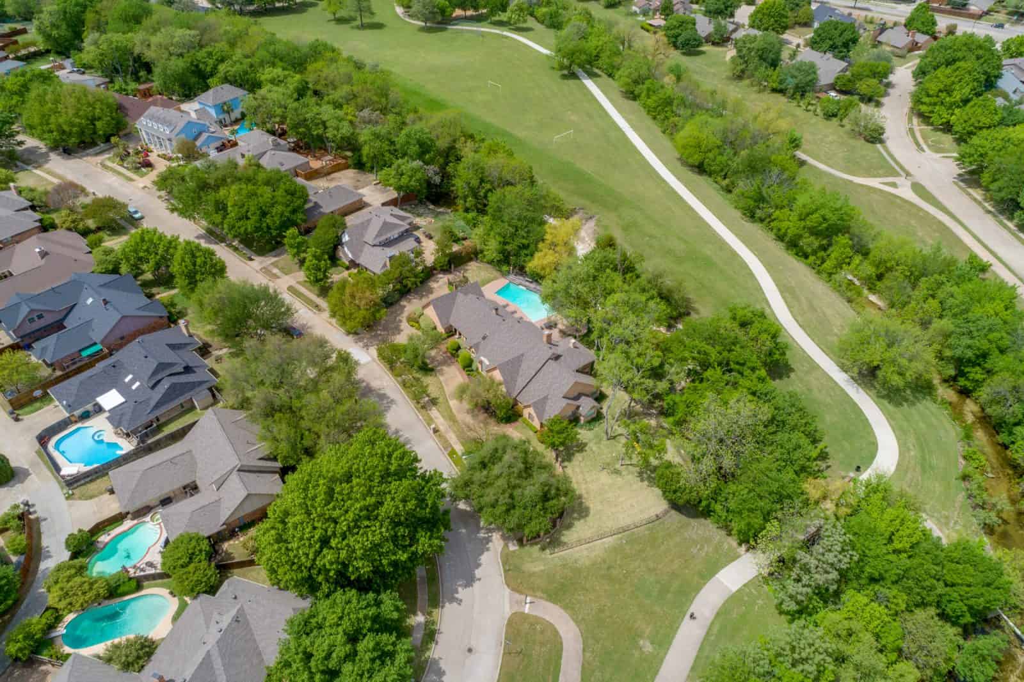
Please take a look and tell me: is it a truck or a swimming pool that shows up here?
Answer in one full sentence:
Visible in the photo is a swimming pool.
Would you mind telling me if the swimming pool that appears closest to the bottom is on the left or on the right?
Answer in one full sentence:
The swimming pool that appears closest to the bottom sits on the left side.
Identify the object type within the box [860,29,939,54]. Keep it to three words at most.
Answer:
house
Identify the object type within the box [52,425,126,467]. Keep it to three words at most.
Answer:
swimming pool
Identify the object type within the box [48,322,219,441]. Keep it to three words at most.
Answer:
house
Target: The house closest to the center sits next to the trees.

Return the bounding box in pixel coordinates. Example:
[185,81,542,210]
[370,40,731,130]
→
[430,281,600,430]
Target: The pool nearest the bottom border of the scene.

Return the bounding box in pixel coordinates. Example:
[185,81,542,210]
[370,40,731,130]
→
[42,591,173,652]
